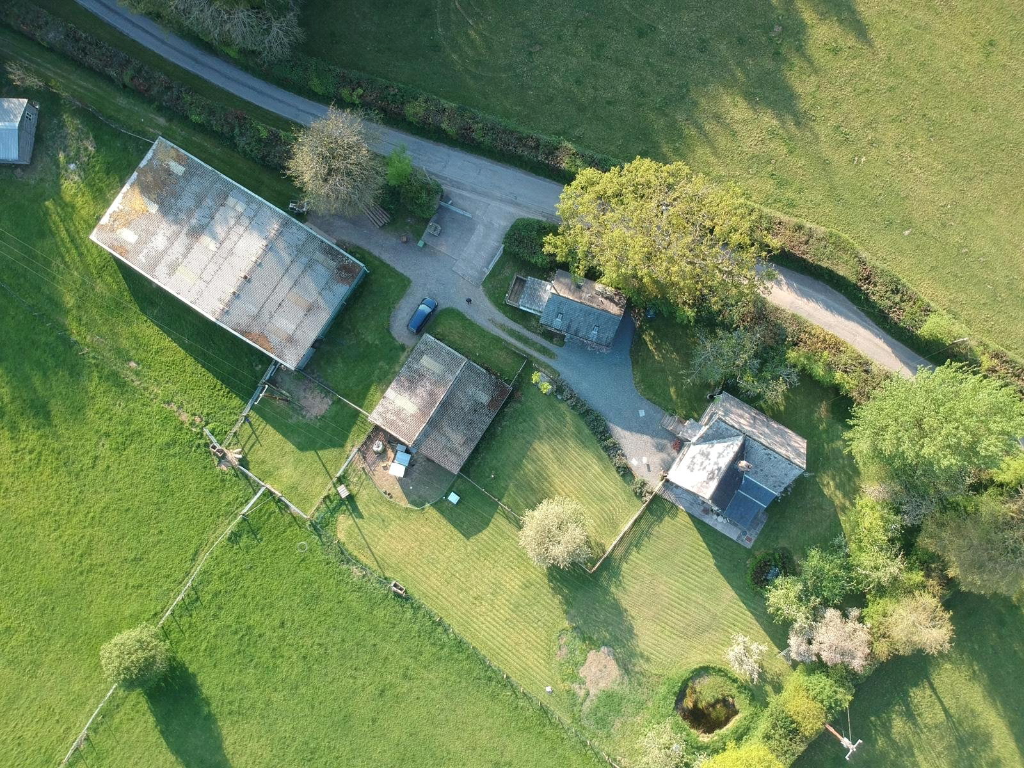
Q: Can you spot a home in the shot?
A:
Yes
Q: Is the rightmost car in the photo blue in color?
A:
Yes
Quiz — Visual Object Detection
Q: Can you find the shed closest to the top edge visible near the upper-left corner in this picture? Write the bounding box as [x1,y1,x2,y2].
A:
[0,96,37,165]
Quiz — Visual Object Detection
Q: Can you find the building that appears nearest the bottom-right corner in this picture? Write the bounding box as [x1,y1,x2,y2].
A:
[665,391,812,526]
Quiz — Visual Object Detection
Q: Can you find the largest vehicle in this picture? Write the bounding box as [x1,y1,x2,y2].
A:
[406,296,438,337]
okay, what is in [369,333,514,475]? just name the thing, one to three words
barn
